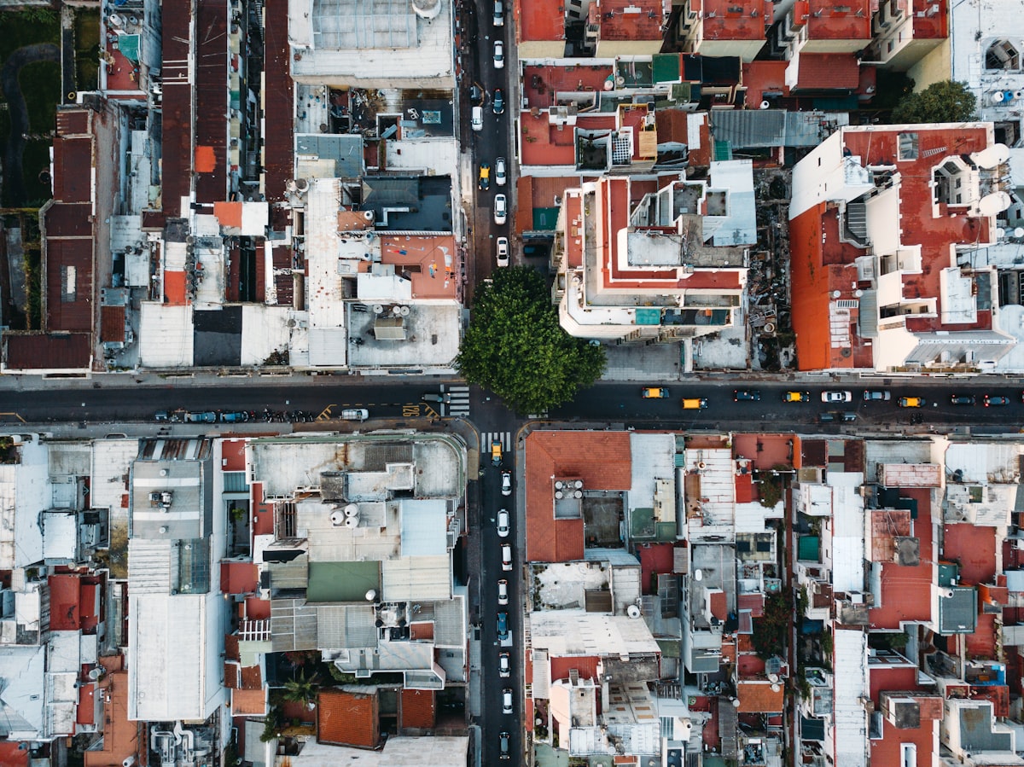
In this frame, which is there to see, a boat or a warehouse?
warehouse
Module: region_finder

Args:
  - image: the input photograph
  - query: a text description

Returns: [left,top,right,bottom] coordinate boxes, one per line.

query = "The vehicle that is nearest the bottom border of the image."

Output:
[498,730,510,758]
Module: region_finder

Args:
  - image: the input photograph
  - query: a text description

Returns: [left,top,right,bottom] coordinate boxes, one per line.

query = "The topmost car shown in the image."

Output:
[492,1,504,27]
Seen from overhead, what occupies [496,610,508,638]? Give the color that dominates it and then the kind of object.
blue vehicle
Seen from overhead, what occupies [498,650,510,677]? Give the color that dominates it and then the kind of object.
white vehicle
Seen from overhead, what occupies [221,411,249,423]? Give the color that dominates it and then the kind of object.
blue vehicle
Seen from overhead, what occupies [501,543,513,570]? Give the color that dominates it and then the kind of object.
white vehicle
